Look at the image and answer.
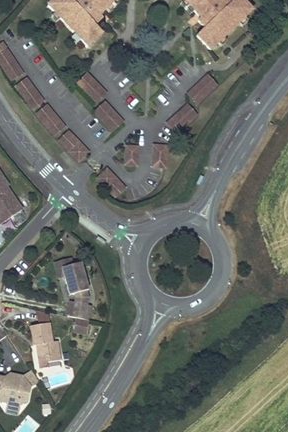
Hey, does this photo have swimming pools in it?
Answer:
Yes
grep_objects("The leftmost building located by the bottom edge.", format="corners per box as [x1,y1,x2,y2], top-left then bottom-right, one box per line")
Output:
[0,370,38,416]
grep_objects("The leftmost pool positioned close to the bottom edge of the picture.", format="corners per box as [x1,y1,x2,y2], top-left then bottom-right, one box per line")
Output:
[10,416,40,432]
